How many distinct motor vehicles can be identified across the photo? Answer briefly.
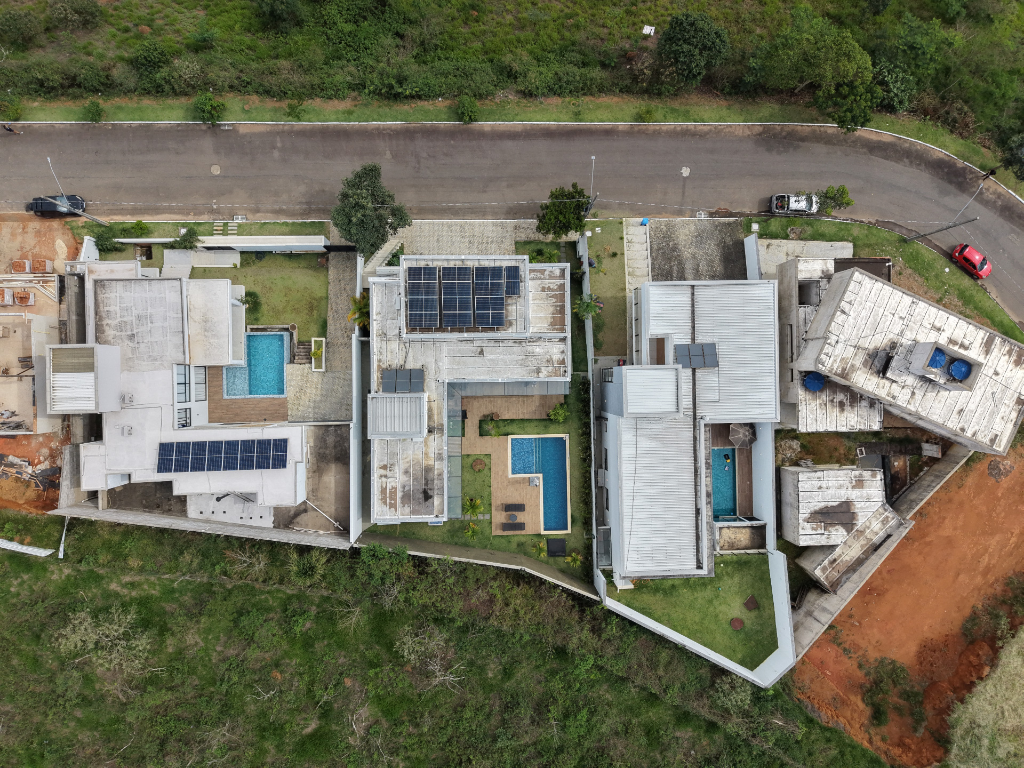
3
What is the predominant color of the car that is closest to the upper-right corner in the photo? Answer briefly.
red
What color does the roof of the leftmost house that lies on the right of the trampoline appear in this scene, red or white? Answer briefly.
white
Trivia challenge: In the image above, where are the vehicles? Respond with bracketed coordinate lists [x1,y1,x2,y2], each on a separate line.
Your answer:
[953,240,999,278]
[20,190,85,219]
[771,190,824,216]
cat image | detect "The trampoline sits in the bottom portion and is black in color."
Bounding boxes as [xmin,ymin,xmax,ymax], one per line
[548,539,565,557]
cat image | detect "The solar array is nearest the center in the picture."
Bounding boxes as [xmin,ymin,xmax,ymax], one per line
[408,261,520,333]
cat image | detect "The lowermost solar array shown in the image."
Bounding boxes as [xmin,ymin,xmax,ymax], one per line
[157,438,288,473]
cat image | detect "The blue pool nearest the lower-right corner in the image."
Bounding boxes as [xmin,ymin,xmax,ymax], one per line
[713,447,738,516]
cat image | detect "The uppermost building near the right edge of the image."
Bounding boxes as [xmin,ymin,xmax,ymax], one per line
[777,258,1024,454]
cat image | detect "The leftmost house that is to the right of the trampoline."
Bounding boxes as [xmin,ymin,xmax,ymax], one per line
[595,281,780,580]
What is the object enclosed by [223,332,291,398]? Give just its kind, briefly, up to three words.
swimming pool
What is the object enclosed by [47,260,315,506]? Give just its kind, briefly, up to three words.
house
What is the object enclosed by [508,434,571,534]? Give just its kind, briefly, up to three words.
swimming pool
